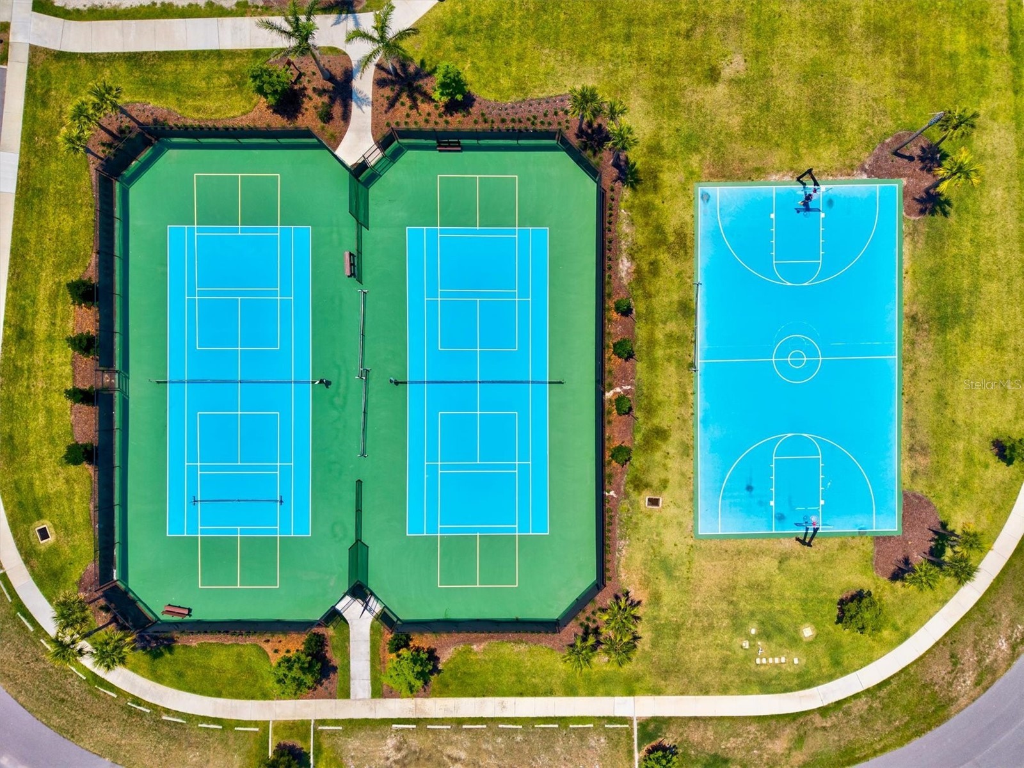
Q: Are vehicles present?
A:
No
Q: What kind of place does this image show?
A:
sports ground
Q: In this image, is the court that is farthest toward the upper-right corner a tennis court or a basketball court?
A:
basketball court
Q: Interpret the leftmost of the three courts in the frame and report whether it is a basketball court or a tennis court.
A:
tennis court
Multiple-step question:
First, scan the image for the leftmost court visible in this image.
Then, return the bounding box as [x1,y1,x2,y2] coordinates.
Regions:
[115,139,358,620]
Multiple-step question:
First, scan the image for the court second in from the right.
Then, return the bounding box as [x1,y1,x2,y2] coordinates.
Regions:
[358,139,599,621]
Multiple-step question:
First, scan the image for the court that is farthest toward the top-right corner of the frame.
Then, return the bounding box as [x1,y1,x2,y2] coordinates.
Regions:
[695,180,903,539]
